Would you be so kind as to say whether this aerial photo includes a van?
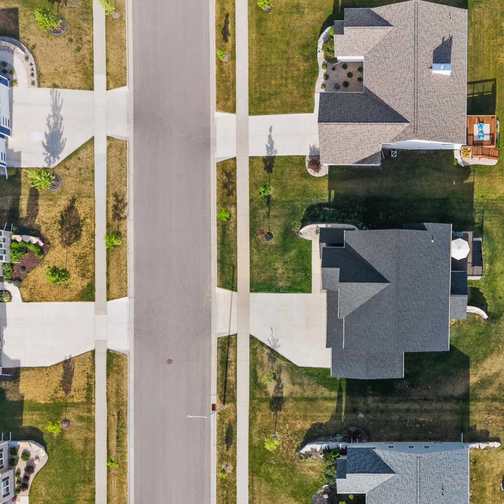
No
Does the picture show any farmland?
No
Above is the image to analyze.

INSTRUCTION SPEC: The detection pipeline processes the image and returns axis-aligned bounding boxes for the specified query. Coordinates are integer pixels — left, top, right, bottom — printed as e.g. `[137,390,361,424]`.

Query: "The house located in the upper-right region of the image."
[318,0,469,172]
